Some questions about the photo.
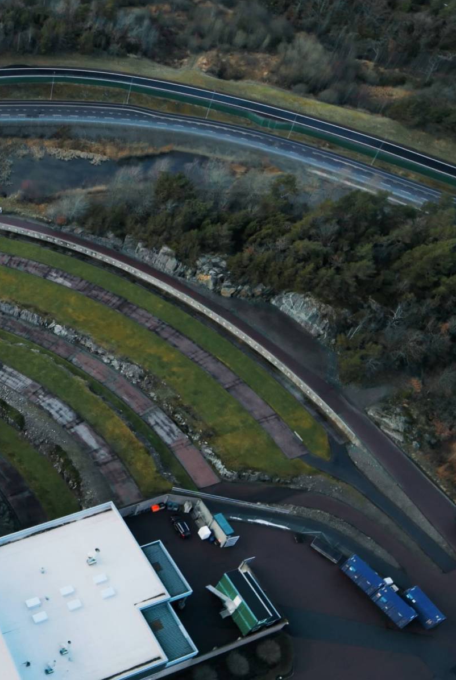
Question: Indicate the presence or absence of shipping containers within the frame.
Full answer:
Yes, the image includes a shipping container.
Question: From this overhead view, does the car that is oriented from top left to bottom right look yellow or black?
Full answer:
The car that is oriented from top left to bottom right looks black in the image.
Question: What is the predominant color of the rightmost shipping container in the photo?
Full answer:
From above, the rightmost shipping container appears blue.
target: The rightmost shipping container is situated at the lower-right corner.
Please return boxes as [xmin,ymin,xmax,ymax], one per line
[401,586,447,631]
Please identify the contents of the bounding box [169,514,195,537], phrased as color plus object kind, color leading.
black car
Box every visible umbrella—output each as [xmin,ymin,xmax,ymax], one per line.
[197,528,210,541]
